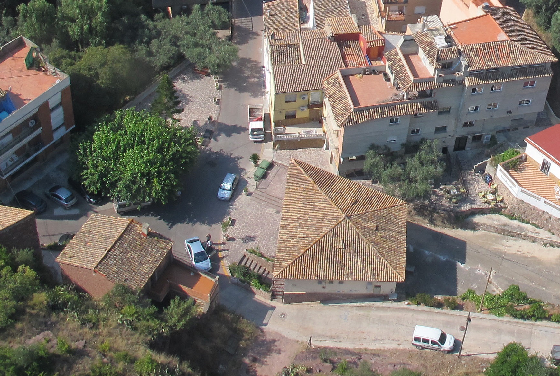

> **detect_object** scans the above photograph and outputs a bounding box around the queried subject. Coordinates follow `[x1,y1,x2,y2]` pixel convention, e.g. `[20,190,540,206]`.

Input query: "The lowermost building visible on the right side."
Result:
[268,157,407,301]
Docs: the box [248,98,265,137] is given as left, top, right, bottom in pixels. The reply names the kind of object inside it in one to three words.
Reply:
vehicle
